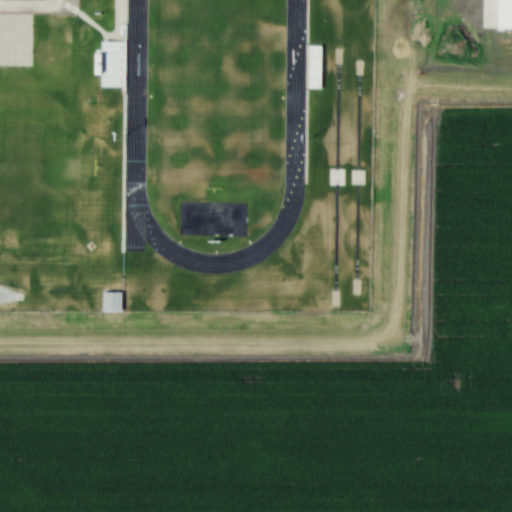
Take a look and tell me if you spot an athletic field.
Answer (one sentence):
Yes, an athletic field appears in the view.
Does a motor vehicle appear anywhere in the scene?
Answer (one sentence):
No, there appears to be no motor vehicle in this shot.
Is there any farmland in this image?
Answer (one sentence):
Yes, farmland can be seen from above here.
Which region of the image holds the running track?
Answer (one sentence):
The running track sits in the top section of the image.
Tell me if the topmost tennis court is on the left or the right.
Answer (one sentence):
The topmost tennis court appears in the left half of the scene.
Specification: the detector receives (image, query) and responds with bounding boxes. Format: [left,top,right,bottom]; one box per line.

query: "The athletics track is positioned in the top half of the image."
[128,0,306,274]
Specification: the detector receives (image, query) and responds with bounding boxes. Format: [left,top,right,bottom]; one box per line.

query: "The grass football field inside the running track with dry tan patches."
[148,0,286,254]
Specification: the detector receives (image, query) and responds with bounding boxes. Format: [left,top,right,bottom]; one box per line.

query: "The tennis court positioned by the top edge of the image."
[0,14,34,68]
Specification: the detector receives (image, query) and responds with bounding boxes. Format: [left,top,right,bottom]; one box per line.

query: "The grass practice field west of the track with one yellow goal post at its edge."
[0,120,98,217]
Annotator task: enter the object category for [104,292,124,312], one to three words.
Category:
shed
